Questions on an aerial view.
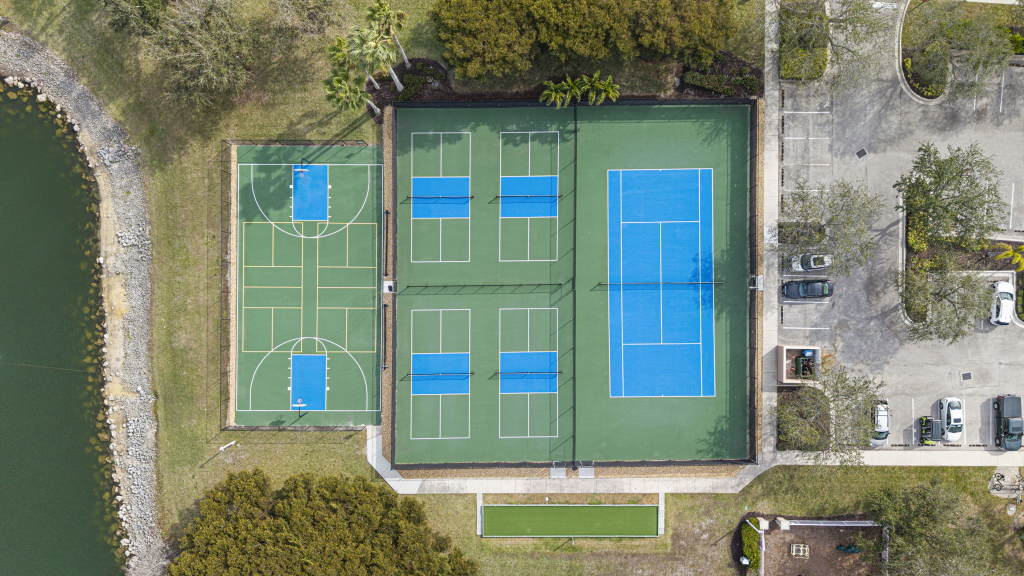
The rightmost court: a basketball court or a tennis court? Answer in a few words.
tennis court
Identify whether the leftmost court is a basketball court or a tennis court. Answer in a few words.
basketball court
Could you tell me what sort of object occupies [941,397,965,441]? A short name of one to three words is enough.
car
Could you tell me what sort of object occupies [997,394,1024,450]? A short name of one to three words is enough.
truck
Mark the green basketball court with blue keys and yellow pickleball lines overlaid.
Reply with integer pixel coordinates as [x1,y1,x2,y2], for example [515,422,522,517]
[236,145,384,426]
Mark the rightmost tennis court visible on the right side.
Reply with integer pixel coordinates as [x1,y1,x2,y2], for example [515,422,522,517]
[574,104,750,461]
